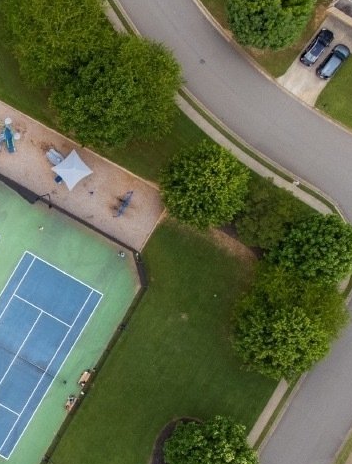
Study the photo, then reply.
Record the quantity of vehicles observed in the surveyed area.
2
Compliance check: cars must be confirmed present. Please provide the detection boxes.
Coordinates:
[315,42,349,81]
[298,29,333,67]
